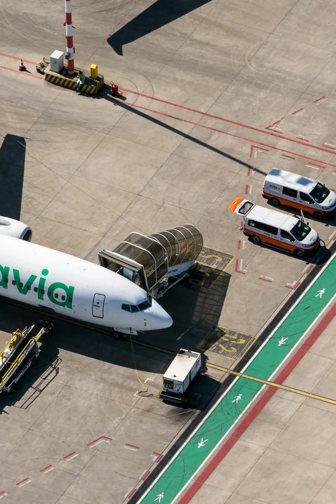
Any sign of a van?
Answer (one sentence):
Yes, the frame does contain a van.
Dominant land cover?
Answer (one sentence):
The scene is dominated by paved ground.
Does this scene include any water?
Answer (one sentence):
No, the scene doesn't show any water.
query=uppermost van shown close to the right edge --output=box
[263,167,336,218]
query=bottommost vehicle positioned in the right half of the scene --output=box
[230,197,321,261]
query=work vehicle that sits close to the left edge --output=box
[0,313,52,396]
